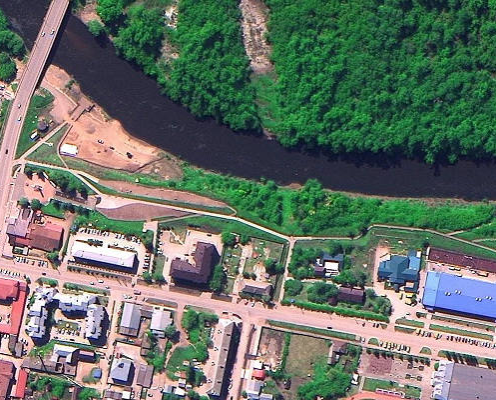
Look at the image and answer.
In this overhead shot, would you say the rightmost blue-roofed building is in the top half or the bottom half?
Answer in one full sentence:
Seen from above, the rightmost blue-roofed building lies in the bottom half of the view.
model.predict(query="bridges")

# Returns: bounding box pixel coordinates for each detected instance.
[17,0,69,101]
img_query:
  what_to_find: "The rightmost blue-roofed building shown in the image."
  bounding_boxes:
[422,271,496,320]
